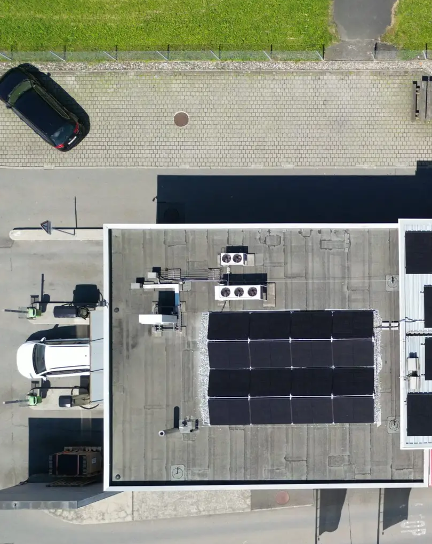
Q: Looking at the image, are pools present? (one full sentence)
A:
No, the frame has no pool in it.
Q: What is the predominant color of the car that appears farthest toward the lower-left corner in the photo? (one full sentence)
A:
The color of the car that appears farthest toward the lower-left corner is white.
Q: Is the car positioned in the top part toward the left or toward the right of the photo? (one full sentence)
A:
The car positioned in the top part is on the left side of the image.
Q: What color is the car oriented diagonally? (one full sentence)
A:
From above, the car oriented diagonally appears black.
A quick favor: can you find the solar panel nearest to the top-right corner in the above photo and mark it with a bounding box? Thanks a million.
[402,231,432,273]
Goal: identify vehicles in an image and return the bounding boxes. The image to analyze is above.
[16,335,104,386]
[0,63,89,155]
